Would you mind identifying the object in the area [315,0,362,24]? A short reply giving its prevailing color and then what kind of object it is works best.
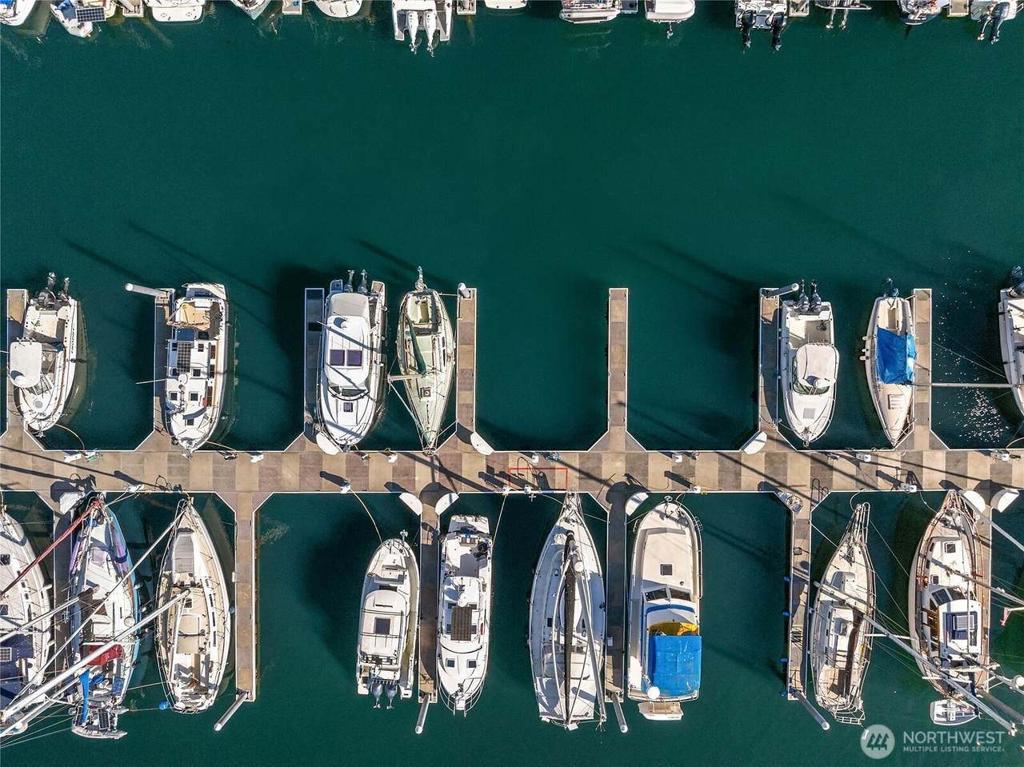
white boat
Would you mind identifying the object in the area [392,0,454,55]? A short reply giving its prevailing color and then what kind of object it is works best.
white boat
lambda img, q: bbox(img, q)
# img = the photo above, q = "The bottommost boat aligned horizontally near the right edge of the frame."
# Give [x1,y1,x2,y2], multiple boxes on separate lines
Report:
[926,699,984,725]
